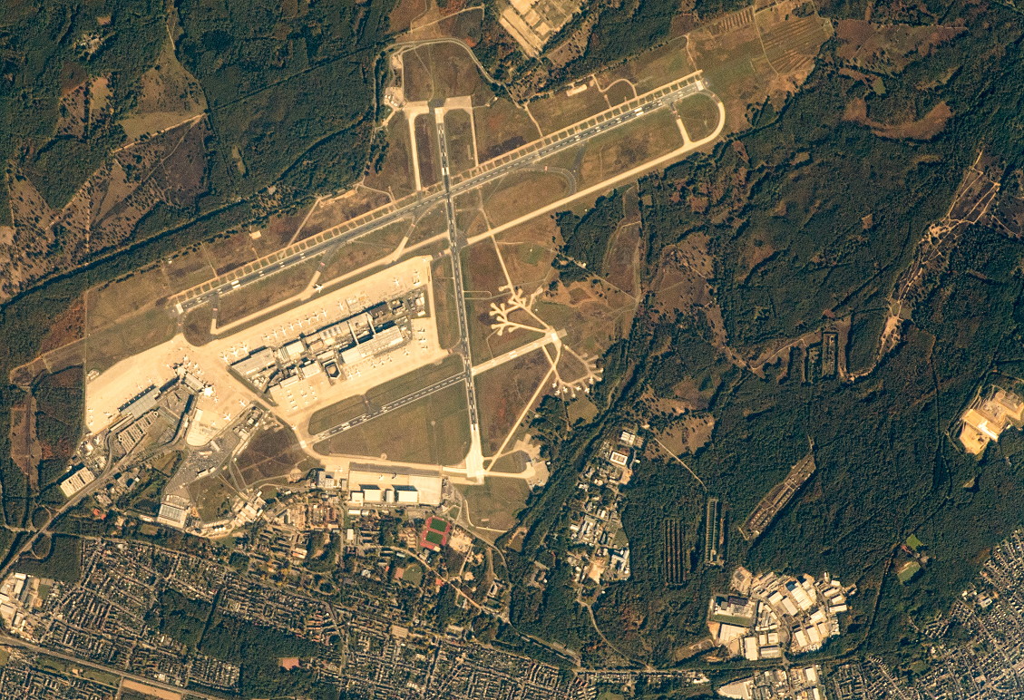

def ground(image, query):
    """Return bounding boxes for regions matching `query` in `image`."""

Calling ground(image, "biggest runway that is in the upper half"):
[175,79,704,314]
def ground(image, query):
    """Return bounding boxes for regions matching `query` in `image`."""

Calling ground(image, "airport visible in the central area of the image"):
[85,53,726,506]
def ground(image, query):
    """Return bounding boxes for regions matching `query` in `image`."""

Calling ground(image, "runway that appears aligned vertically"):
[435,107,484,485]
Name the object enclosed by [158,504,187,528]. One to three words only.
building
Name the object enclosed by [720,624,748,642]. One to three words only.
building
